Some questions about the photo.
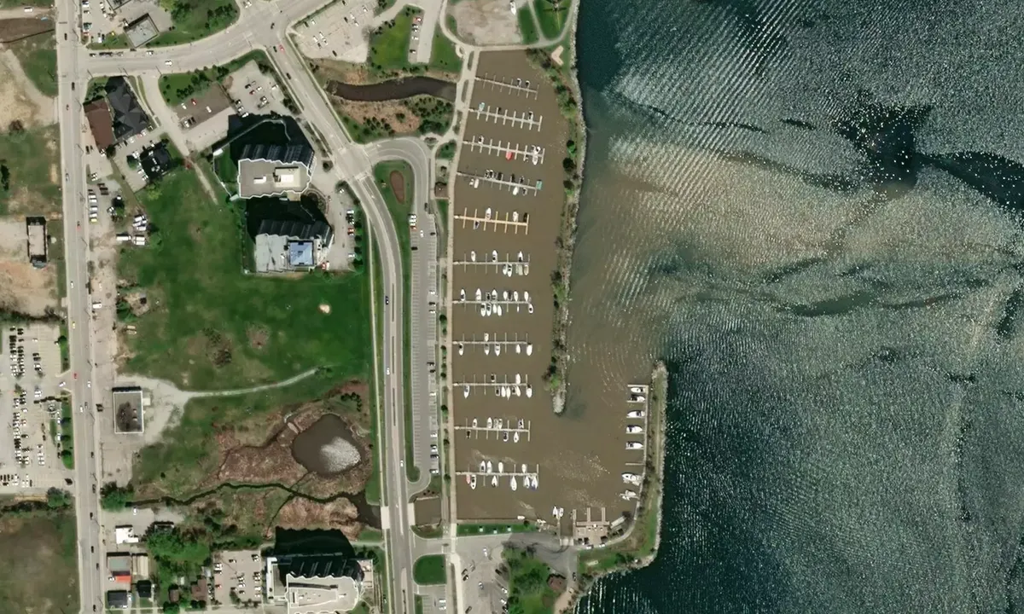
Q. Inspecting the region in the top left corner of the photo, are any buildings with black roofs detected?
Yes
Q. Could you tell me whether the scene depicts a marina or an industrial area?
marina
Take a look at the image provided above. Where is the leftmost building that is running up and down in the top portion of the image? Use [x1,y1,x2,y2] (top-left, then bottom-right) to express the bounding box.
[27,218,49,269]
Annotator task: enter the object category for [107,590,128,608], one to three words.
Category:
house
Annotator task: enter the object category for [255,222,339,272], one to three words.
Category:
building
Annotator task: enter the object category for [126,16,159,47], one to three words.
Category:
building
